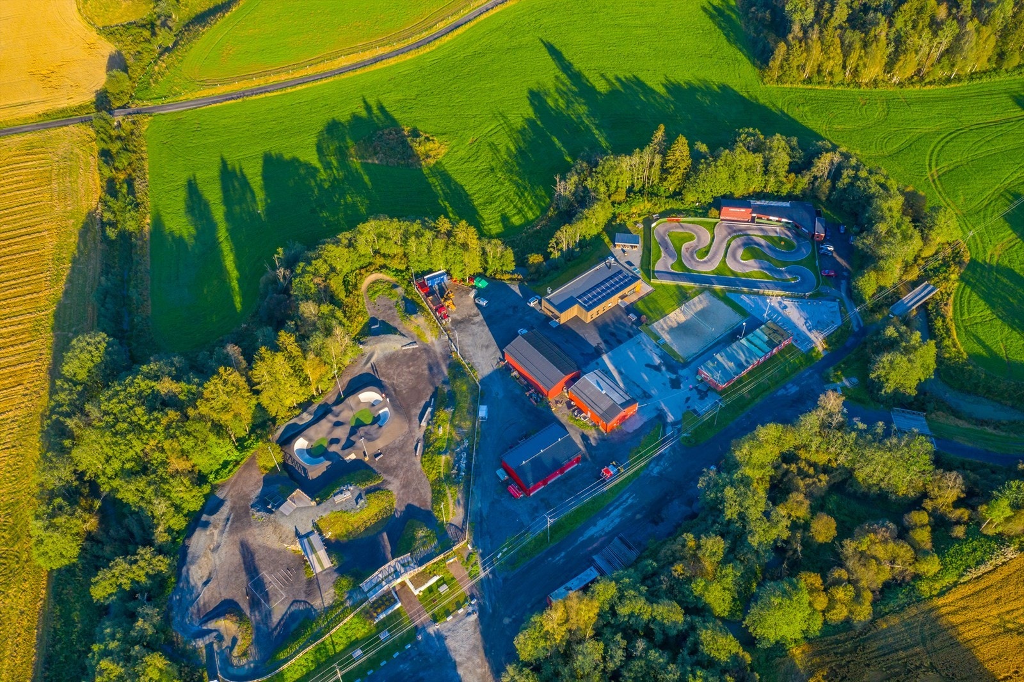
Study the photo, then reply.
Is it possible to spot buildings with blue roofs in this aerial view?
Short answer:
Yes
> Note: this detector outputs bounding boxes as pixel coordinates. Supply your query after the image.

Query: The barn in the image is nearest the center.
[503,330,582,399]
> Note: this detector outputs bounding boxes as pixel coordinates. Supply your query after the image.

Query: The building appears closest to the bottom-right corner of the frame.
[700,321,792,393]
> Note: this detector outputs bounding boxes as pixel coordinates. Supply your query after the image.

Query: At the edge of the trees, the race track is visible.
[654,222,819,292]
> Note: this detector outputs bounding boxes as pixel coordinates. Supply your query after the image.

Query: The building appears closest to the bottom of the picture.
[499,423,581,498]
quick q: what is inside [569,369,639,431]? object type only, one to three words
building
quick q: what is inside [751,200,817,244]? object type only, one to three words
building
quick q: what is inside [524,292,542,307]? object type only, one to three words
vehicle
